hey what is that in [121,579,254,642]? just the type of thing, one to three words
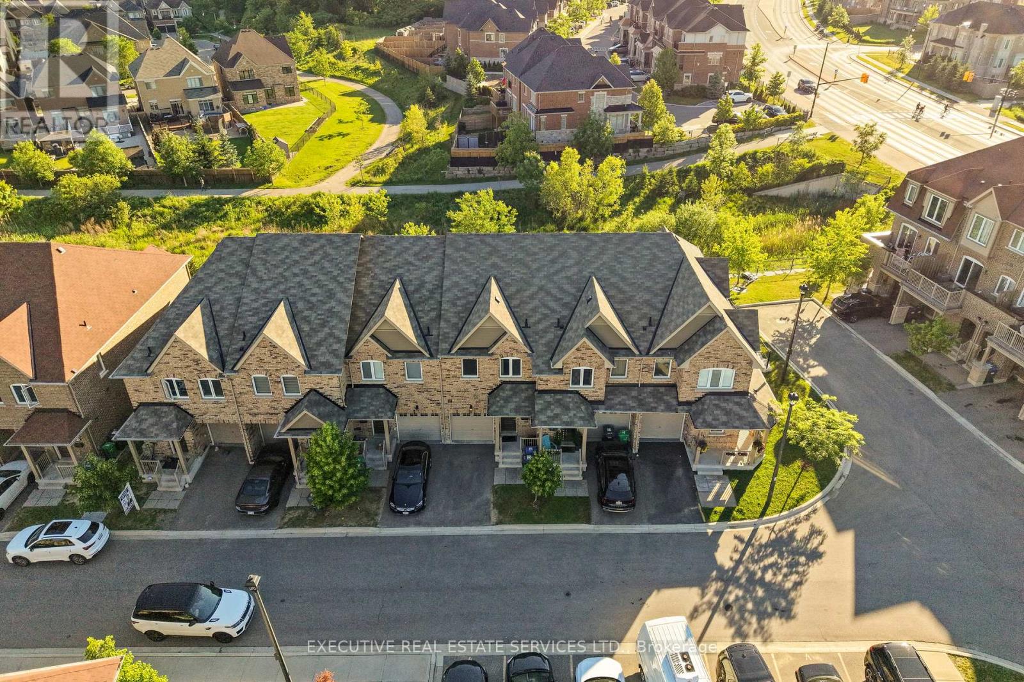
car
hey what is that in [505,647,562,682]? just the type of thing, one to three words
car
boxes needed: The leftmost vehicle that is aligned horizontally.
[1,514,113,564]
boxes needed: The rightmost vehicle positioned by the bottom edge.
[861,627,941,682]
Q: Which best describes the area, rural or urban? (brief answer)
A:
urban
